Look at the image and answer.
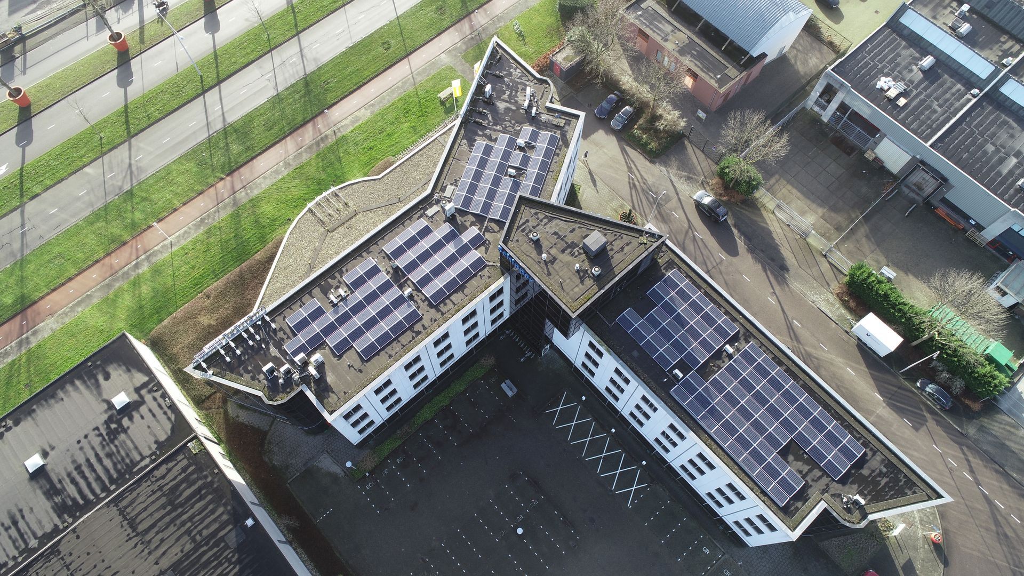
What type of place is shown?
industrial area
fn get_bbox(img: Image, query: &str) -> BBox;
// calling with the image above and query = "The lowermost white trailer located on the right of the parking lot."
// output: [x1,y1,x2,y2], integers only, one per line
[845,312,904,358]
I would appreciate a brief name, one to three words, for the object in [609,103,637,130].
car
